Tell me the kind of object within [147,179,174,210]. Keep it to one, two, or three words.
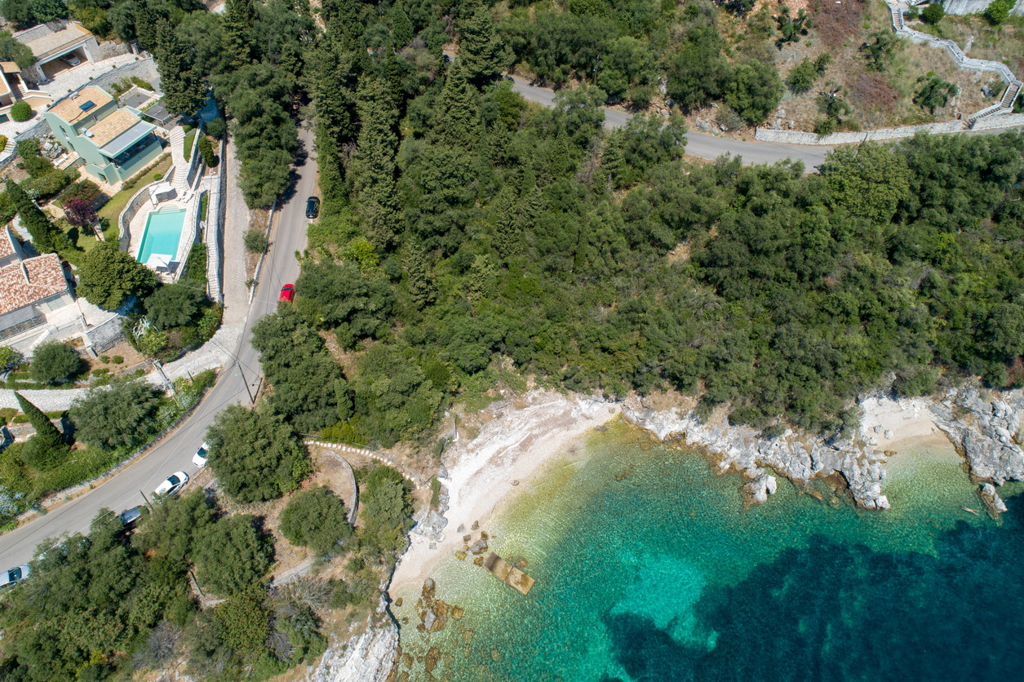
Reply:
umbrella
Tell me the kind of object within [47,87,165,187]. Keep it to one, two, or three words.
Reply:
building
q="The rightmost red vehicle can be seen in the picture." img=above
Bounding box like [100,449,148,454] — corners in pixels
[277,278,296,301]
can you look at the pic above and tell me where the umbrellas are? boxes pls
[147,179,174,210]
[143,252,176,275]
